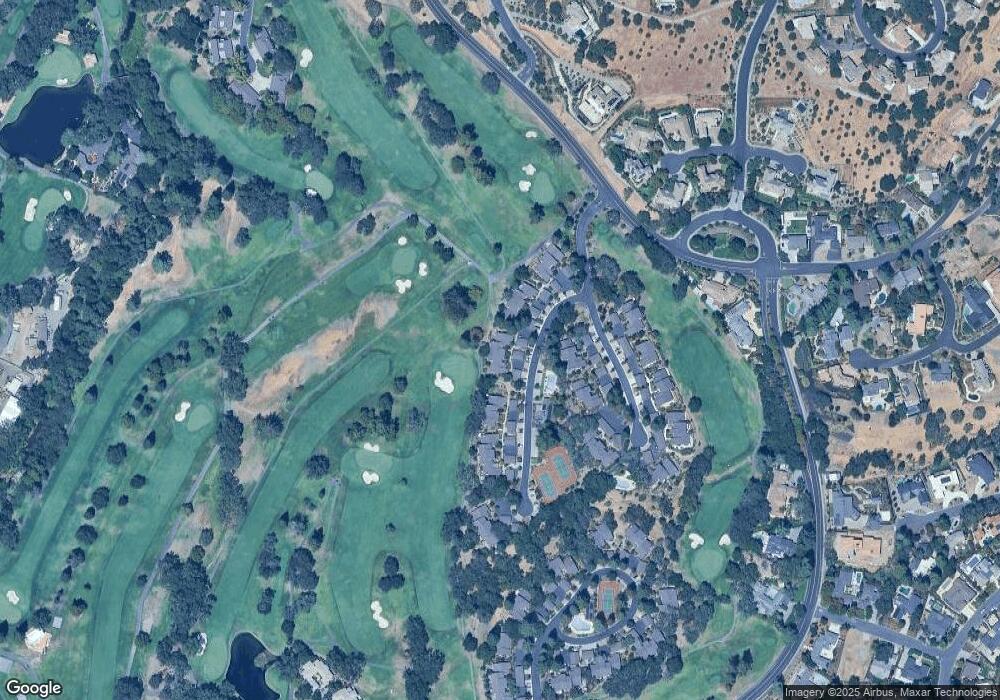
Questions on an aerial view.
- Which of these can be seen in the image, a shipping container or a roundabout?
roundabout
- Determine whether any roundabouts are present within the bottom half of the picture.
No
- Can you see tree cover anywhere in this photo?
Yes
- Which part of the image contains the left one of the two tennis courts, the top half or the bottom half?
bottom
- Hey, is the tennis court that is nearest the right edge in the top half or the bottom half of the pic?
bottom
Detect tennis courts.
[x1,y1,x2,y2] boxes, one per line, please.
[597,581,620,617]
[532,447,577,504]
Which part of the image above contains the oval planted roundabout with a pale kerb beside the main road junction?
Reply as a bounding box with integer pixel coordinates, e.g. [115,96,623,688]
[673,204,775,277]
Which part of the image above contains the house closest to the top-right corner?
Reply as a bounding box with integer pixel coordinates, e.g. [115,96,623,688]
[954,2,973,21]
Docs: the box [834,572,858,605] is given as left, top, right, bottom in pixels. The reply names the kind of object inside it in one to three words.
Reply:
house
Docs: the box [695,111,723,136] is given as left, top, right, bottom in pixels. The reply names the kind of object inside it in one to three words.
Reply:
house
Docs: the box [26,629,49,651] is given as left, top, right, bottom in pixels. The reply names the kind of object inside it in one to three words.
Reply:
shed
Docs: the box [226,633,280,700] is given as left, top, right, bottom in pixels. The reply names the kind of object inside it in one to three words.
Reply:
pond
